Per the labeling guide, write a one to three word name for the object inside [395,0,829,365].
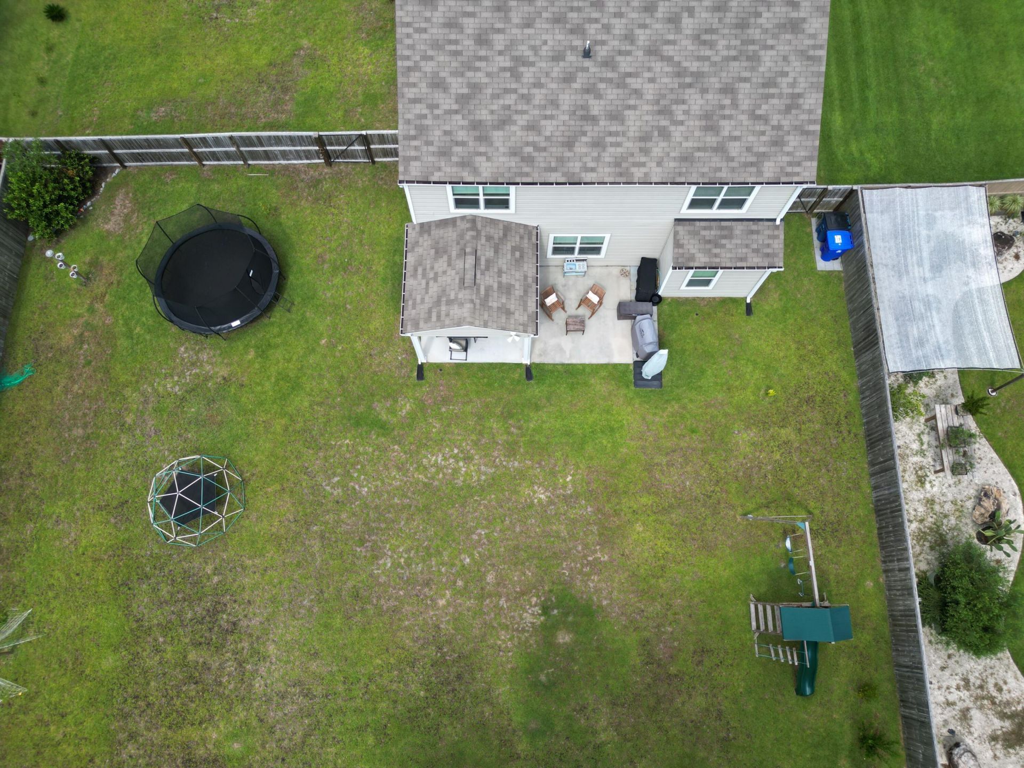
house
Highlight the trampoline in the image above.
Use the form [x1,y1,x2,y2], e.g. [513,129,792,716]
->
[134,201,292,345]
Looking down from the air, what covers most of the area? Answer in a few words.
grass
